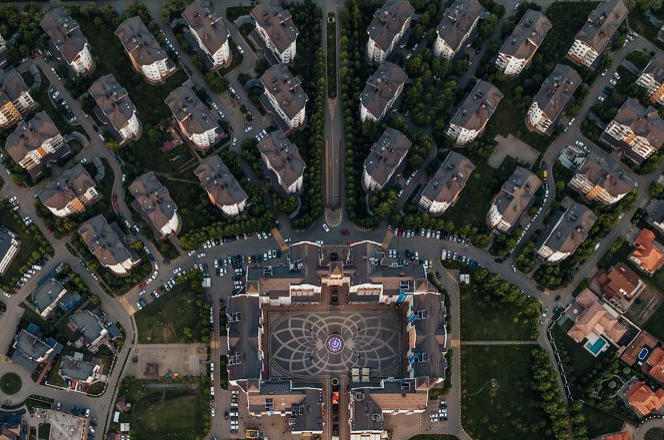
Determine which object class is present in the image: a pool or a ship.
pool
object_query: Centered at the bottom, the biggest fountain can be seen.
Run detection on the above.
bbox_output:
[325,335,344,353]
